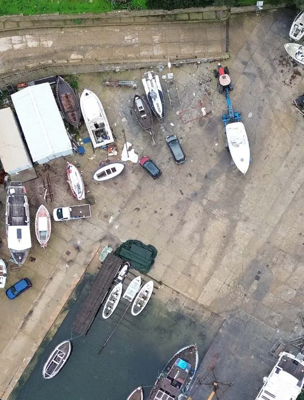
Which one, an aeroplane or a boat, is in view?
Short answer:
boat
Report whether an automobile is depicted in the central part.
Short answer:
Yes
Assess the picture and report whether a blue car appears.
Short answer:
Yes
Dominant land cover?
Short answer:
paved ground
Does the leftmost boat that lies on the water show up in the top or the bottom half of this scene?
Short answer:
bottom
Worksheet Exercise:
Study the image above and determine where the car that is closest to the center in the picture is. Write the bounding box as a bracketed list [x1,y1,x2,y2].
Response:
[137,155,164,181]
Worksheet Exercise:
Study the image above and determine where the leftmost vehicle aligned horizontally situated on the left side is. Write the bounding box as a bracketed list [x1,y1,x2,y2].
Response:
[54,203,92,223]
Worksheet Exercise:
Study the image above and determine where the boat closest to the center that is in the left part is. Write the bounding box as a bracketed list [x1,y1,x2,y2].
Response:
[93,163,124,181]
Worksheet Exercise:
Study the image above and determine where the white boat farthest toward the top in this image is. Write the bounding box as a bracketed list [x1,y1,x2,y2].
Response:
[290,13,304,43]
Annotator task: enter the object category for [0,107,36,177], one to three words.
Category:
shed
